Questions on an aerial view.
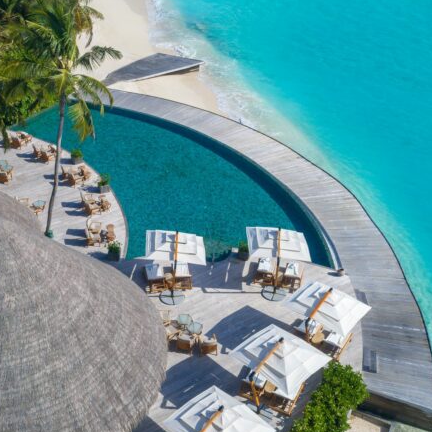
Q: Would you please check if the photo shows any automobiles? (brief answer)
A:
No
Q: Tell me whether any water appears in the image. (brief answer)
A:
Yes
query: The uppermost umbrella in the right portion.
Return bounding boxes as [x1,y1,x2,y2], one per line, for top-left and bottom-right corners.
[246,228,311,306]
